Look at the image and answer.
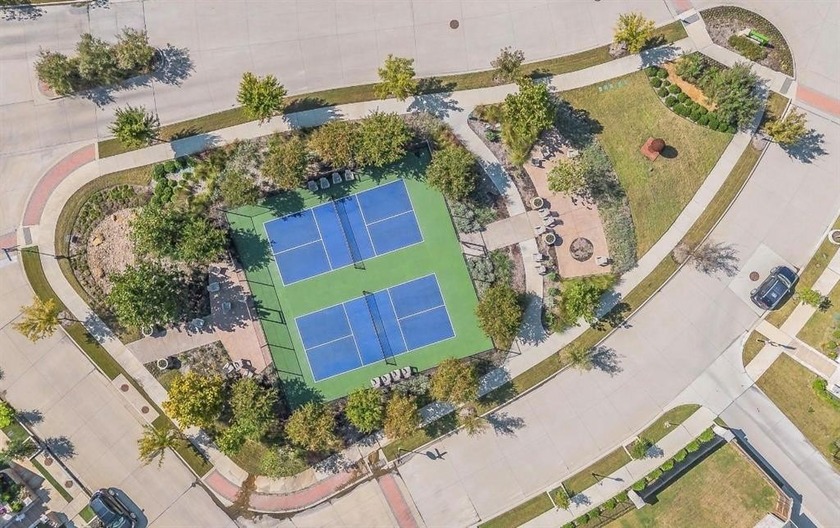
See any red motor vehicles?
No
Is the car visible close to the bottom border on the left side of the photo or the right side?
left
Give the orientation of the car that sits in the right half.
at an angle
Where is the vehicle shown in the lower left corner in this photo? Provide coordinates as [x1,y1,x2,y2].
[87,489,135,528]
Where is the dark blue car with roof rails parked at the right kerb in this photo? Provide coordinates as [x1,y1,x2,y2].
[751,263,799,313]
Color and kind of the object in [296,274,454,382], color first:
blue sports court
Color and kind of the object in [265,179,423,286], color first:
blue sports court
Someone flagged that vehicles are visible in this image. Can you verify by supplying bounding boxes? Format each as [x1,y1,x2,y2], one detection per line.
[751,263,799,313]
[87,489,135,528]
